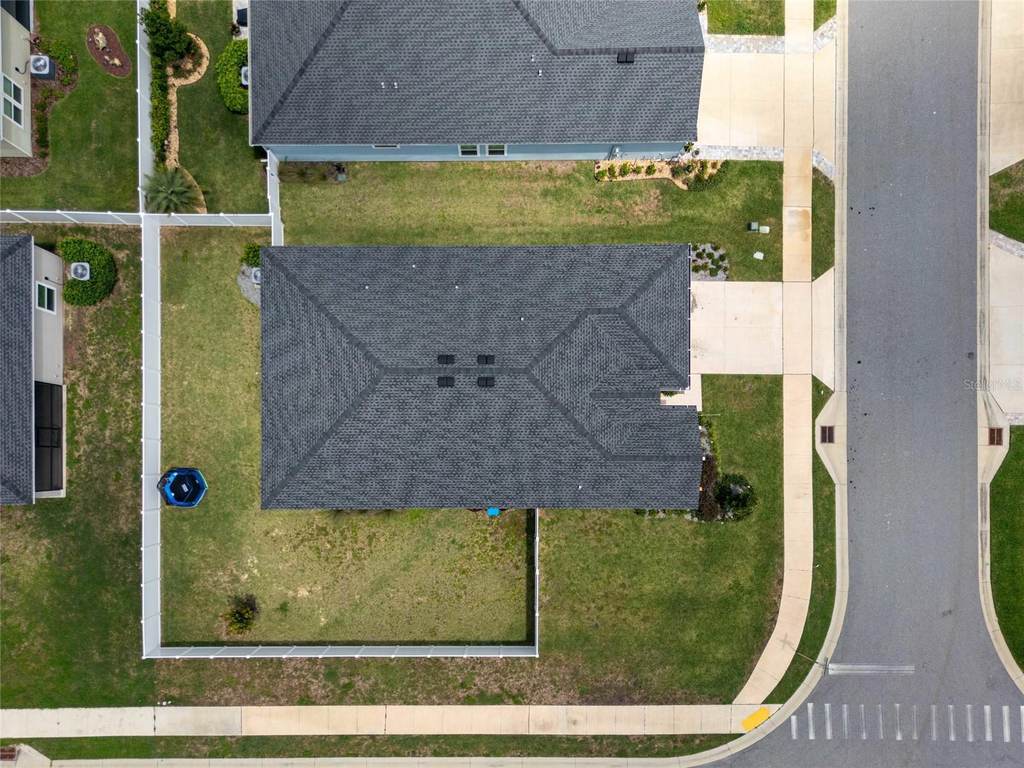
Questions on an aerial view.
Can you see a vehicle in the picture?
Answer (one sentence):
No, no vehicle can be seen from above.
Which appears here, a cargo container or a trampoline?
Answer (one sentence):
The one in the frame is a trampoline.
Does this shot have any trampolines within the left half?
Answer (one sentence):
Yes, I can see a trampoline within the left half.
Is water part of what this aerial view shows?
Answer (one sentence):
No, no water is visible.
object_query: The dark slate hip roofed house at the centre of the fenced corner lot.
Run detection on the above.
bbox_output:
[259,244,706,511]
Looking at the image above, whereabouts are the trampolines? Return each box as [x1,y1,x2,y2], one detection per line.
[155,470,212,508]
